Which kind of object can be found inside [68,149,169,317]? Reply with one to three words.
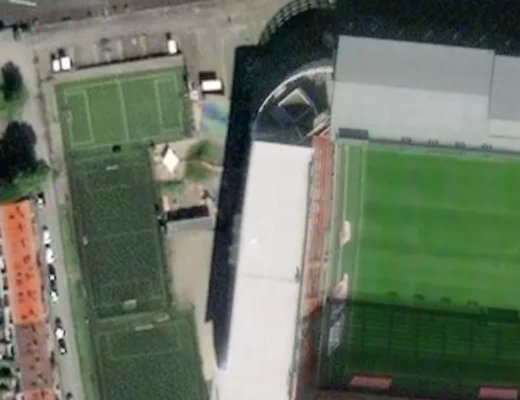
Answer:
sports field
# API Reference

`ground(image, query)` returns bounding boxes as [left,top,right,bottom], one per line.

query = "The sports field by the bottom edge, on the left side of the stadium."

[92,310,208,400]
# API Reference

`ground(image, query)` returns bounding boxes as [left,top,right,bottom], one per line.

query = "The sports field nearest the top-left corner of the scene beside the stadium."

[57,67,191,152]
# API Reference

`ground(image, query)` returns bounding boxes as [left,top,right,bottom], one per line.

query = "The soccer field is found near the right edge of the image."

[318,140,520,391]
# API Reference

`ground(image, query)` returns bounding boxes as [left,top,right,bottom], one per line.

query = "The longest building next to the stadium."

[166,217,212,237]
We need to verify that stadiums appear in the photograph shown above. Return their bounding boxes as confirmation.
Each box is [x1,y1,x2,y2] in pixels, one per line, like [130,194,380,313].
[213,29,520,400]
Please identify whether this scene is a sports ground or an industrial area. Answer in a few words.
sports ground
